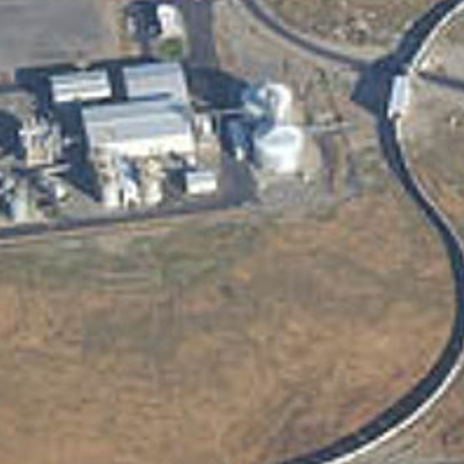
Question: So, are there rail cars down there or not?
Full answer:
Yes, the image includes a rail car.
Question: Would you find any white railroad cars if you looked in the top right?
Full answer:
Yes, a white railroad car appears in the top right.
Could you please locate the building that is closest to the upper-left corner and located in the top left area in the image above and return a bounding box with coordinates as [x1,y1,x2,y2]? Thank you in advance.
[52,70,109,101]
